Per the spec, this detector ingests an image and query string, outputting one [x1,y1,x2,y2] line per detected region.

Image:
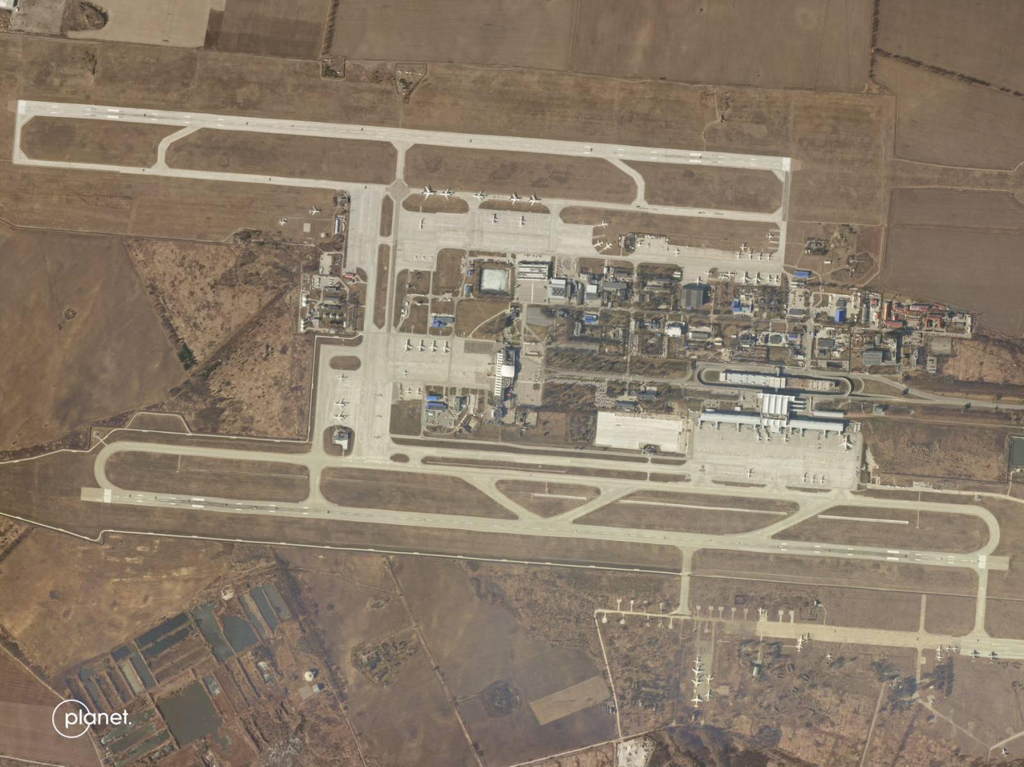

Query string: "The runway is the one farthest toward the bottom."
[81,487,1009,571]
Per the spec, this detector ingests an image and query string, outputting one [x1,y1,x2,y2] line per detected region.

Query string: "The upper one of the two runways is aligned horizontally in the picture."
[8,100,800,171]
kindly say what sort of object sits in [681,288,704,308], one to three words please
hangar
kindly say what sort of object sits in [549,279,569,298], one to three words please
building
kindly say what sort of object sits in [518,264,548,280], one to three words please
building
